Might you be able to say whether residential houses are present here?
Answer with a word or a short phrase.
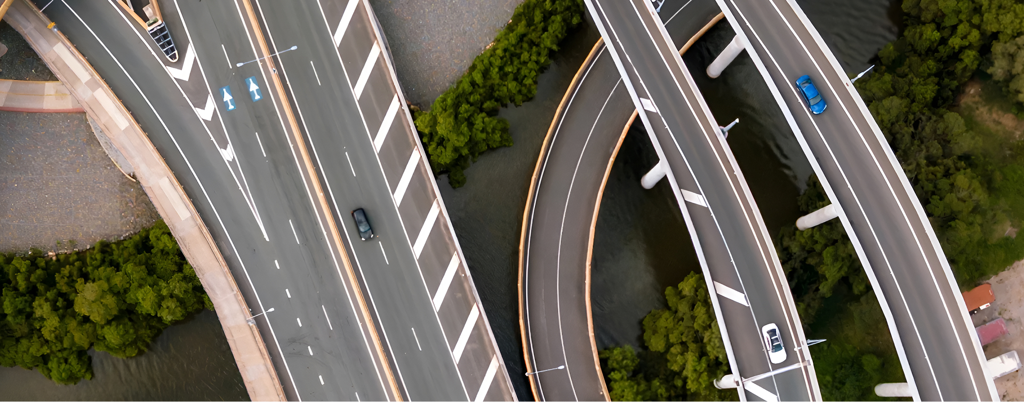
No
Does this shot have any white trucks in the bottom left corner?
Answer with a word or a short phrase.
No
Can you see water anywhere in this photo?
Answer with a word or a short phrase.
Yes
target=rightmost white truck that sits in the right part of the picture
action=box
[988,347,1022,376]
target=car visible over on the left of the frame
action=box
[352,207,374,242]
